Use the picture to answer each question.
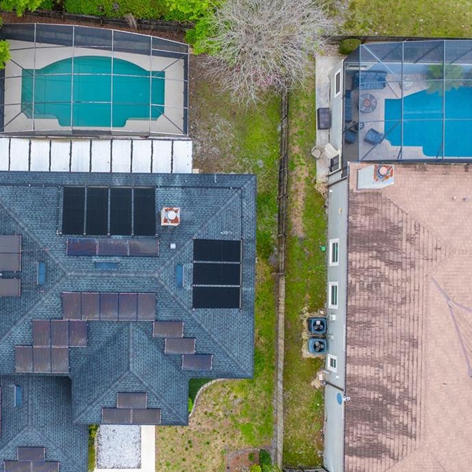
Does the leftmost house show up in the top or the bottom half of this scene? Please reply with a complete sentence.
Seen from above, the leftmost house lies in the bottom half of the view.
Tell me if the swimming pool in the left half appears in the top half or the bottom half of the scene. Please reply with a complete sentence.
It is in the top half that the swimming pool in the left half appears.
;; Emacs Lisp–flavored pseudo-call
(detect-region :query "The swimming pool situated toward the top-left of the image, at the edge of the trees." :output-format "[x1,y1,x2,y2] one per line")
[17,51,169,131]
